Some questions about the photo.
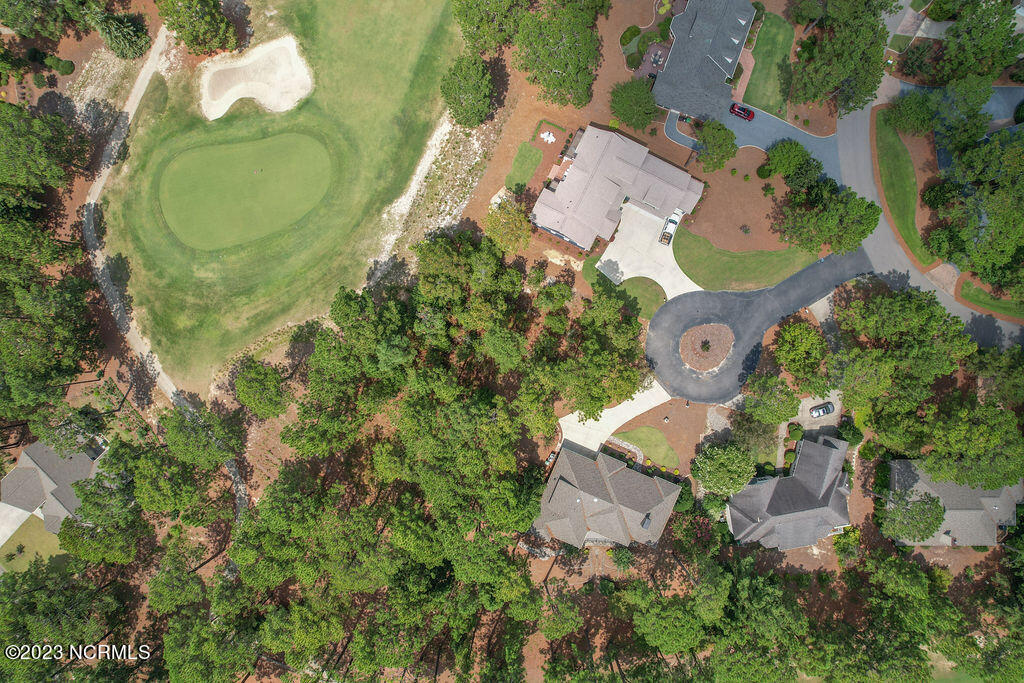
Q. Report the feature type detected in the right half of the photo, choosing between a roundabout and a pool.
roundabout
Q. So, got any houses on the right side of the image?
Yes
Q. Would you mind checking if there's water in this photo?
No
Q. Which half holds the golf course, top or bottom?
top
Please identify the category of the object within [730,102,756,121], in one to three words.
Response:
car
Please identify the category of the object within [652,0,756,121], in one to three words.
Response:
house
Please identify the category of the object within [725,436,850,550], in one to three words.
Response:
house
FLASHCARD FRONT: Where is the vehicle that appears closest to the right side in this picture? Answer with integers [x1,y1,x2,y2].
[809,401,839,420]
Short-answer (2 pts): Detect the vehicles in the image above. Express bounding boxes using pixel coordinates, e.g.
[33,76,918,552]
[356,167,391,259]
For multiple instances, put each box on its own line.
[657,209,684,248]
[809,401,839,420]
[730,102,756,121]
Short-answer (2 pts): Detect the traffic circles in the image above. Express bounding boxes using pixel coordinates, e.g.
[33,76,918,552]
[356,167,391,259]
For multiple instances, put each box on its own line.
[646,246,874,404]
